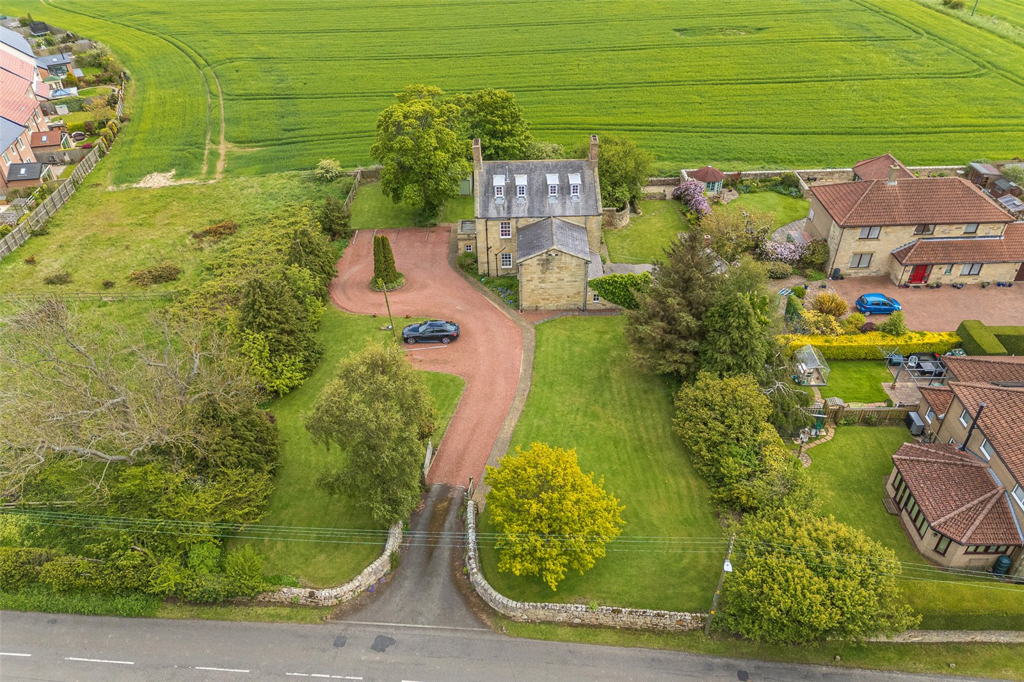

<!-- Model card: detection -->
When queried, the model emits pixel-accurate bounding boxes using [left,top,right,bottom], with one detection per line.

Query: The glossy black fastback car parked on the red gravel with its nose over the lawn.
[403,320,460,345]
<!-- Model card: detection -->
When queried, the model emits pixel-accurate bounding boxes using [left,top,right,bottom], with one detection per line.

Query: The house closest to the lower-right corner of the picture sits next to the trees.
[879,351,1024,581]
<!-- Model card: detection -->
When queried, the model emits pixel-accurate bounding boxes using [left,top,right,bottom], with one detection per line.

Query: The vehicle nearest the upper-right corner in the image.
[857,291,902,314]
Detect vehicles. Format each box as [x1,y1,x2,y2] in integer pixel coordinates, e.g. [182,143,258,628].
[857,291,902,314]
[403,320,460,345]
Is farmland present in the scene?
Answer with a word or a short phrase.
Yes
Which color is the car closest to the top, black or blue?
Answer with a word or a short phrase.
blue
